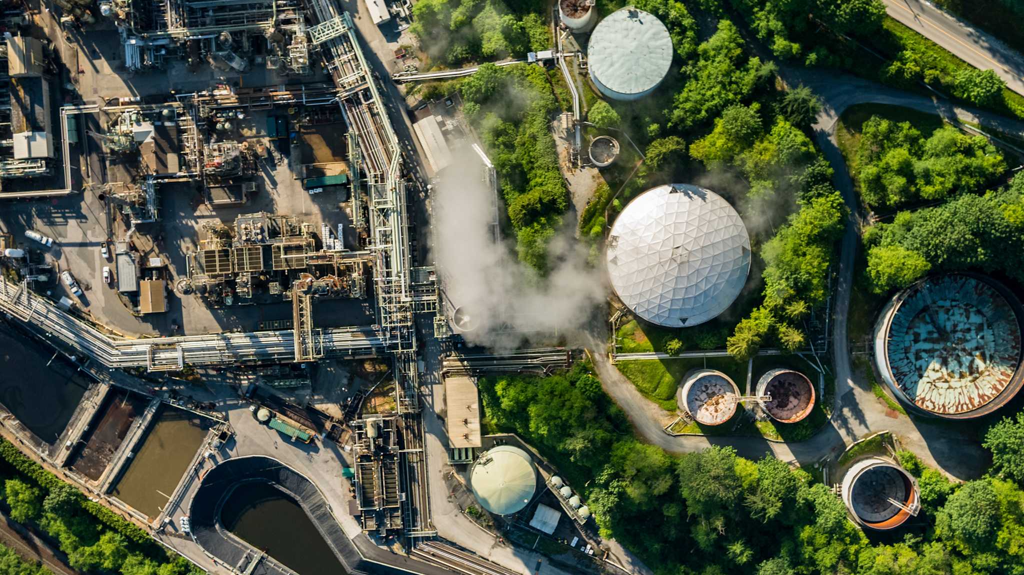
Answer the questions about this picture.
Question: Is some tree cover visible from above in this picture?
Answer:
Yes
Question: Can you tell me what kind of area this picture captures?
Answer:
industrial area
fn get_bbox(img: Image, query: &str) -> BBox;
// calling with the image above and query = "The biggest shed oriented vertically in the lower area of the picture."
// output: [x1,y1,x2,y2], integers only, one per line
[446,375,482,448]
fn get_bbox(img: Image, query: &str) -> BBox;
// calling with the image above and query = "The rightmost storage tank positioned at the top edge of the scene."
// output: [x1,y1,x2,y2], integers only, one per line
[580,7,675,108]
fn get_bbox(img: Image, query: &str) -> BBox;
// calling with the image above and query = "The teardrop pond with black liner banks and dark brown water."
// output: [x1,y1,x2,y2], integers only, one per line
[188,454,373,575]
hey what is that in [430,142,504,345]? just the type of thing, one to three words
cooling tower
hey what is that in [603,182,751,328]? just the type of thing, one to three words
storage tank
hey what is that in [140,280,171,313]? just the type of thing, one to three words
shed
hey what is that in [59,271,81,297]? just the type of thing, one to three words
truck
